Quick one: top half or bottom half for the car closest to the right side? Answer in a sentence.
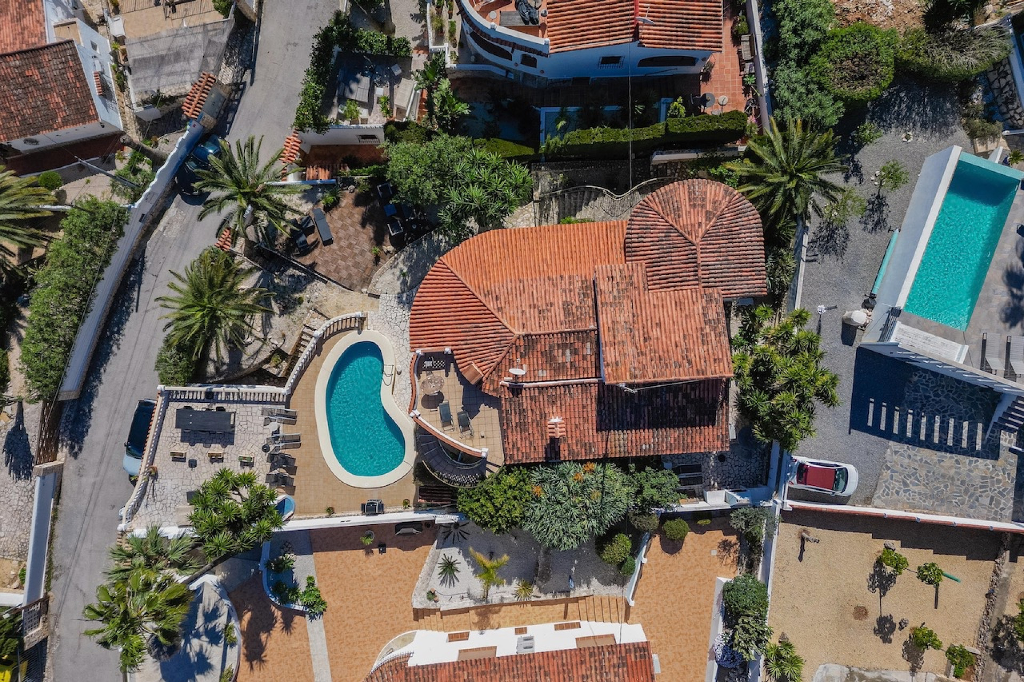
Seen from above, the car closest to the right side lies in the bottom half of the view.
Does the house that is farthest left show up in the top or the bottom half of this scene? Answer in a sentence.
The house that is farthest left is in the top half of the image.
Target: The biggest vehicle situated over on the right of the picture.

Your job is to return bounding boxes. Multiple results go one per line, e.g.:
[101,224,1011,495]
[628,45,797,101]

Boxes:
[790,457,864,501]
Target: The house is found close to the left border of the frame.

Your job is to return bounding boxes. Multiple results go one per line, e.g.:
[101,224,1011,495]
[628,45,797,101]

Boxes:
[0,0,124,159]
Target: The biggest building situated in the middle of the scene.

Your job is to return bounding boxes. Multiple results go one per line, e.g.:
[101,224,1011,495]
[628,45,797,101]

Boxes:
[409,178,767,469]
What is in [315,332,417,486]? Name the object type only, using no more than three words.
swimming pool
